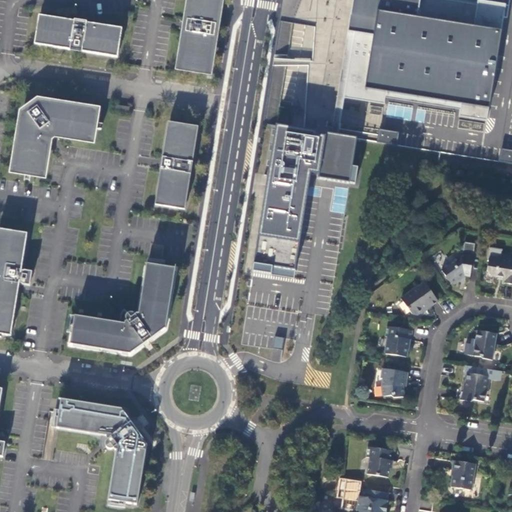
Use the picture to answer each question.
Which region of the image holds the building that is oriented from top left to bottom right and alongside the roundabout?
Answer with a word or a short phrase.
bottom left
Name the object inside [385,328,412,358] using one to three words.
house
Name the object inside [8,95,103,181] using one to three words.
building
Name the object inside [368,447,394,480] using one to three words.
house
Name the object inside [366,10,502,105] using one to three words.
building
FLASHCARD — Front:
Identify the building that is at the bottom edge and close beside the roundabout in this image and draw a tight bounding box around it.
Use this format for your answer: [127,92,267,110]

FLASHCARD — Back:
[54,397,149,512]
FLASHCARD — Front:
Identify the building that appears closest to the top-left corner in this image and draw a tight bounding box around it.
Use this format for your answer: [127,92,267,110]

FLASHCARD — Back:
[33,12,124,61]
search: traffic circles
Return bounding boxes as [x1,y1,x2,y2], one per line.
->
[156,352,235,432]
